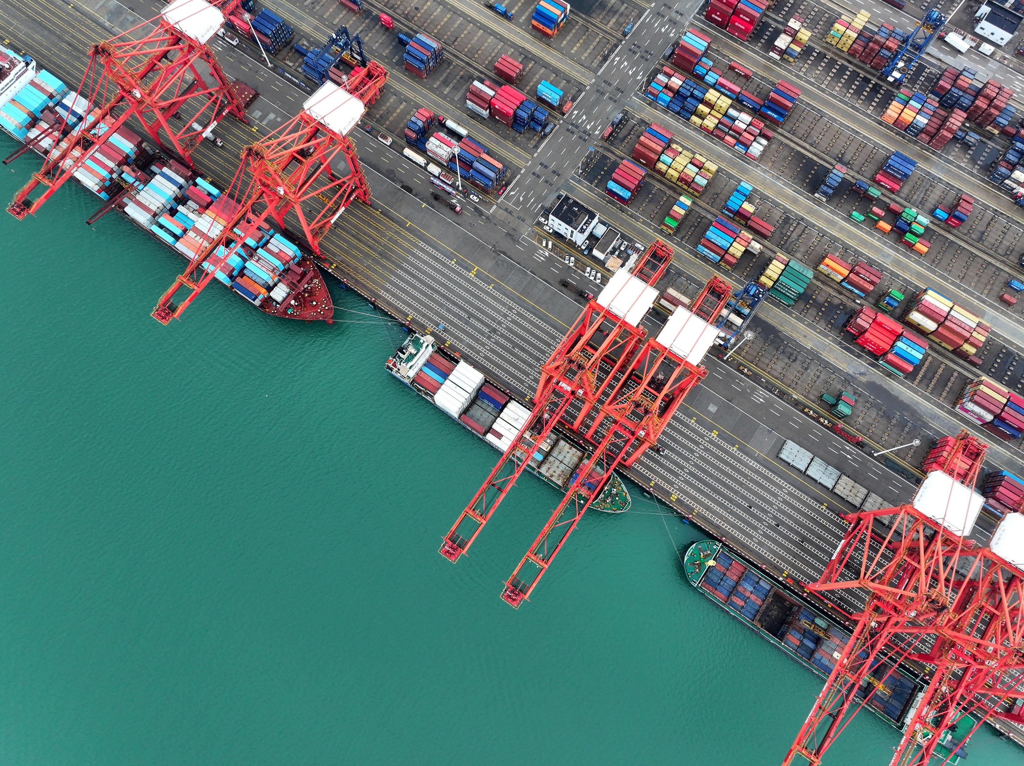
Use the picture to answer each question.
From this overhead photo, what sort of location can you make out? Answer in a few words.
port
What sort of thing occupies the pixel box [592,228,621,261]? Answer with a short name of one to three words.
building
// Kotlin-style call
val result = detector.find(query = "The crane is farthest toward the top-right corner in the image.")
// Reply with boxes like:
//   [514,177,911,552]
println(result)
[880,7,947,86]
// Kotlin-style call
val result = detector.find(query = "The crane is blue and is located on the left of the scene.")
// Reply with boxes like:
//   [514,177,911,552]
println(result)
[308,24,366,88]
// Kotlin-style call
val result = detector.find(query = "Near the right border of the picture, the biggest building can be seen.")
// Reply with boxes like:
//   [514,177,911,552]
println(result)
[970,2,1023,45]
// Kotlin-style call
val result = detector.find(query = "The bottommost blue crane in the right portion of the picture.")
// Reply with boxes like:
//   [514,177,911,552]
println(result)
[717,278,769,350]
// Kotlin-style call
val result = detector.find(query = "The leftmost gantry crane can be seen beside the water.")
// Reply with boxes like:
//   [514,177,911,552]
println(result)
[0,0,251,235]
